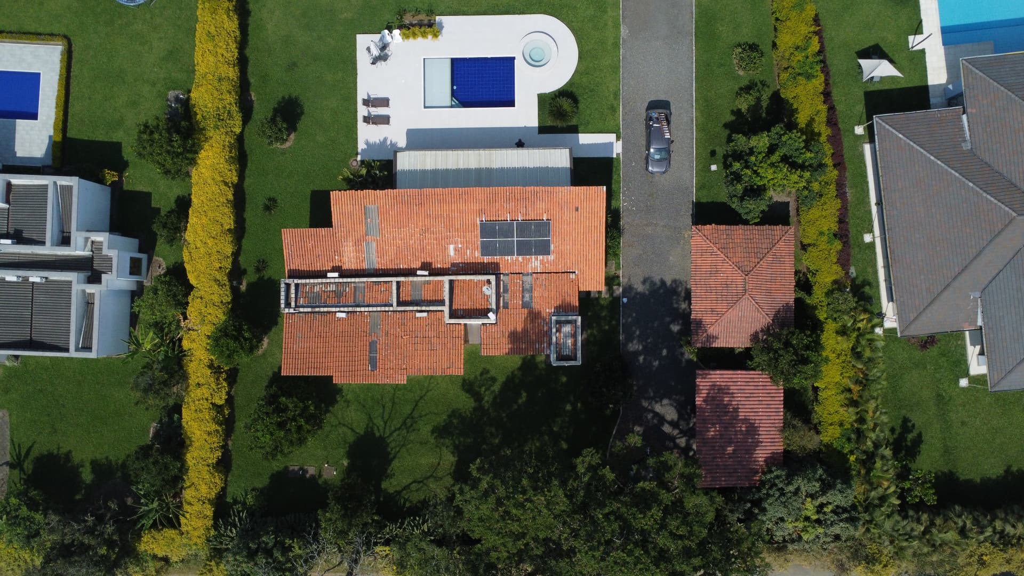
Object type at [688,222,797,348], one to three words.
building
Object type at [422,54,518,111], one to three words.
swimming pool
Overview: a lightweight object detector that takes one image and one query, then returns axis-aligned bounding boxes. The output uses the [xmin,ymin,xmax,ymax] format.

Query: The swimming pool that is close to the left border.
[0,70,43,122]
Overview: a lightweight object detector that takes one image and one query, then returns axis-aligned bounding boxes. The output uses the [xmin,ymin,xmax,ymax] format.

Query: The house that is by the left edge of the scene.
[0,174,148,357]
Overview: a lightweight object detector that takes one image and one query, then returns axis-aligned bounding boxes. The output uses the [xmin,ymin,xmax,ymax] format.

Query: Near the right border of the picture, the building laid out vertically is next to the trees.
[866,50,1024,394]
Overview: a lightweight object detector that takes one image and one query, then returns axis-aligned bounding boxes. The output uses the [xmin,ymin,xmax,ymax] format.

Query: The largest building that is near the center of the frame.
[281,186,606,387]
